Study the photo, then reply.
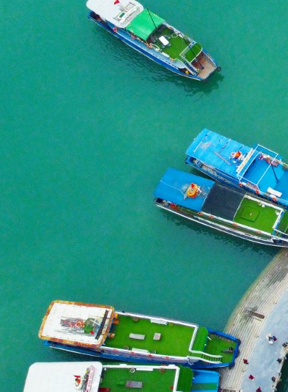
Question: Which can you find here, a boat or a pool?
boat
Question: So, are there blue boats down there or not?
Yes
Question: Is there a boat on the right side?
Yes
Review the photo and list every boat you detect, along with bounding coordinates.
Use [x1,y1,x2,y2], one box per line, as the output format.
[22,362,223,392]
[85,0,218,83]
[151,167,288,250]
[35,304,241,369]
[183,131,288,211]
